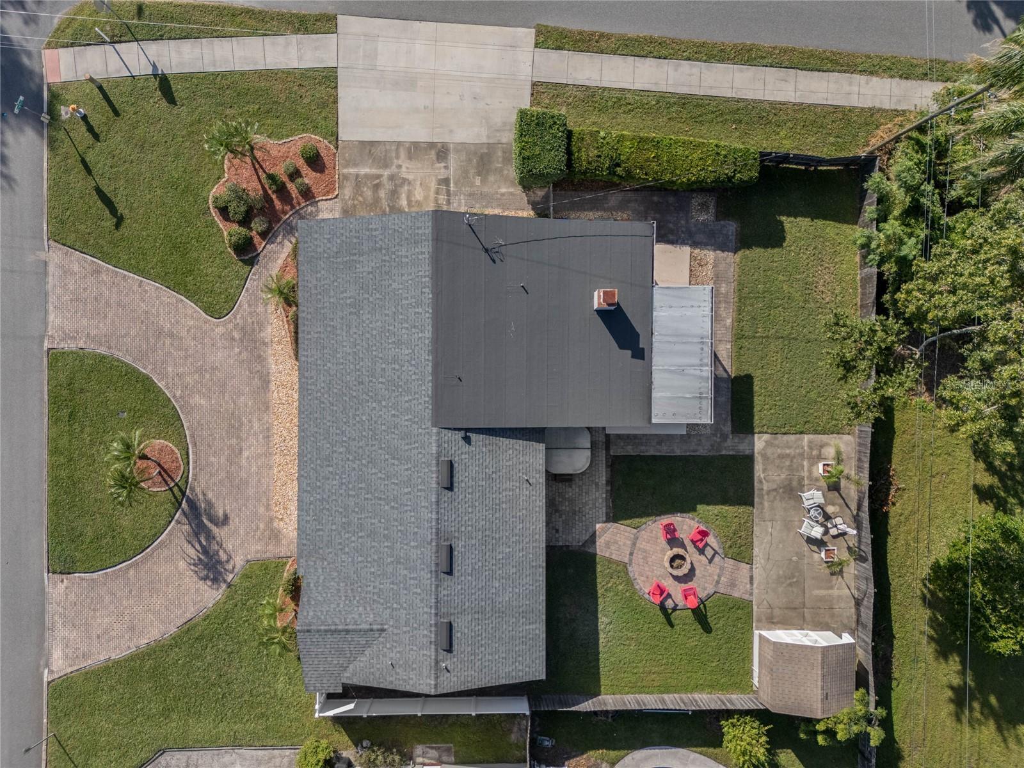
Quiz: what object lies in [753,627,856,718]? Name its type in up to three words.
shed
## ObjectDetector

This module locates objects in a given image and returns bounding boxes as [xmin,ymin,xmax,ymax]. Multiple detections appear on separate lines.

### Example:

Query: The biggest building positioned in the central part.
[295,211,713,694]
